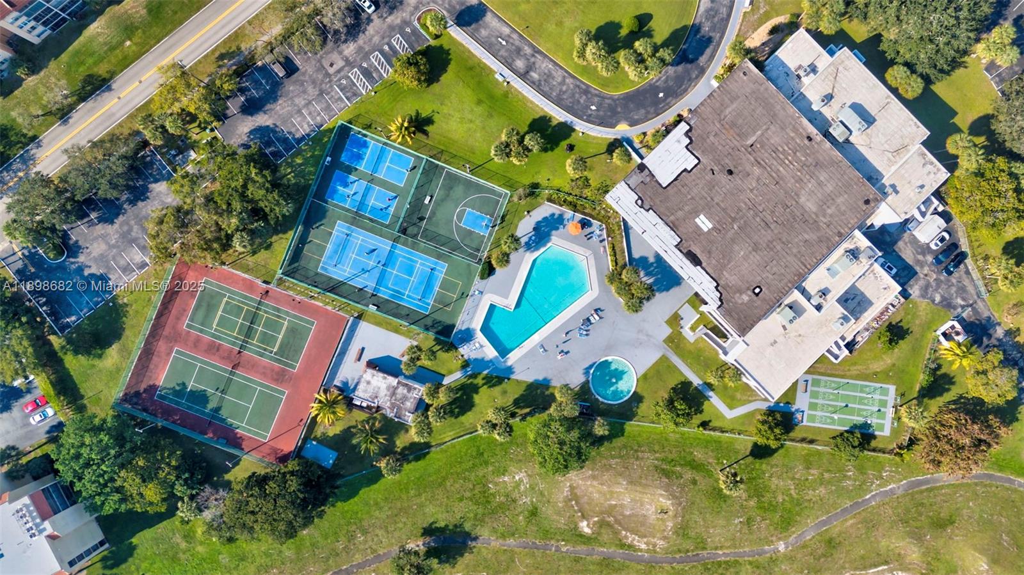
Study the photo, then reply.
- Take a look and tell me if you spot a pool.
Yes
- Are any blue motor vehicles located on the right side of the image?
Yes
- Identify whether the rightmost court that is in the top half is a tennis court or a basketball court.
basketball court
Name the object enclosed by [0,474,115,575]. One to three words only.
house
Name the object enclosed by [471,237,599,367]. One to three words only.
swimming pool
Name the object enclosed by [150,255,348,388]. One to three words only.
tennis court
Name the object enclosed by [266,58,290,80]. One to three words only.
vehicle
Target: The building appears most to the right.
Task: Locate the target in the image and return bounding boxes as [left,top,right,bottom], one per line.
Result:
[604,28,952,401]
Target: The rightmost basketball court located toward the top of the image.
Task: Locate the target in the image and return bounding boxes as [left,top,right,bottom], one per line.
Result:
[398,159,509,264]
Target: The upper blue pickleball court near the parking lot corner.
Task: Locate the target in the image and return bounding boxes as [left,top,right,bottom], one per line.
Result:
[329,124,422,191]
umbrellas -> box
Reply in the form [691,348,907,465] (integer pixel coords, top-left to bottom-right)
[567,221,580,234]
